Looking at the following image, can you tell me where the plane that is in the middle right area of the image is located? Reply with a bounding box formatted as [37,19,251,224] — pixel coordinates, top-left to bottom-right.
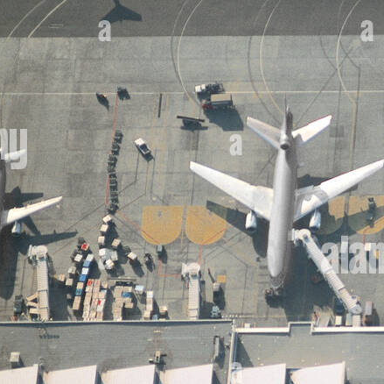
[191,83,379,290]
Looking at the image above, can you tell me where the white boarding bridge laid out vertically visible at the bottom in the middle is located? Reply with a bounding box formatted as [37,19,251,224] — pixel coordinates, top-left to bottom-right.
[176,259,207,319]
